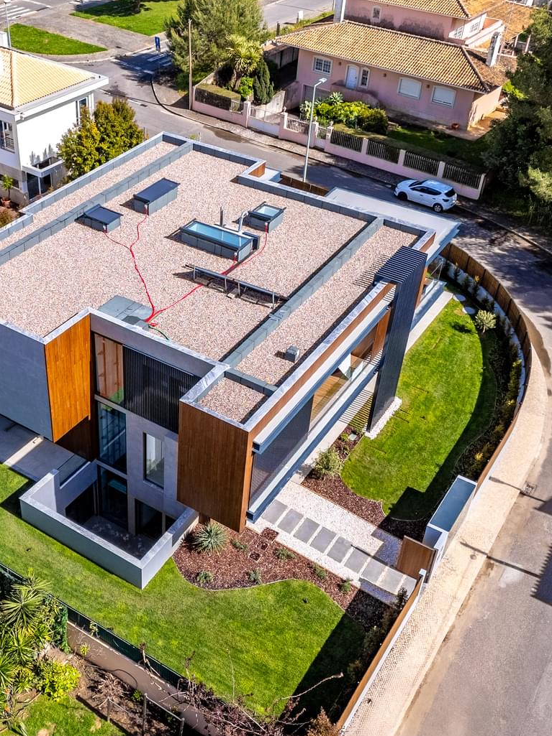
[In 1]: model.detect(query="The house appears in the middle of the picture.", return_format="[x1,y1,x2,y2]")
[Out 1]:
[0,131,462,535]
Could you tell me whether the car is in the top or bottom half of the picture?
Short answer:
top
